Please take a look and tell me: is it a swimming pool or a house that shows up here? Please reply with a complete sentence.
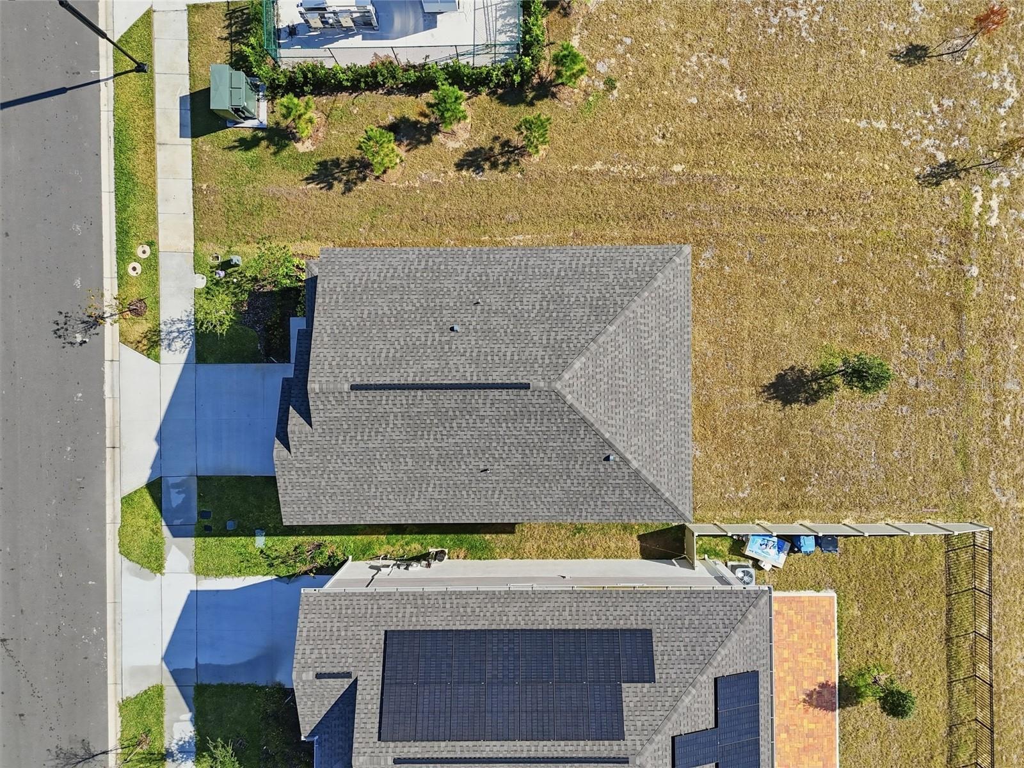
This aerial view contains a house.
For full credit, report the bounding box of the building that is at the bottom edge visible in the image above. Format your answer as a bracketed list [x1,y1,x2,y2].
[296,550,775,768]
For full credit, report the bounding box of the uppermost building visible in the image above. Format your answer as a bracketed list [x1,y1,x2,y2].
[275,243,694,526]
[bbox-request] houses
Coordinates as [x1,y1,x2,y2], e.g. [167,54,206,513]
[296,550,775,768]
[275,243,694,526]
